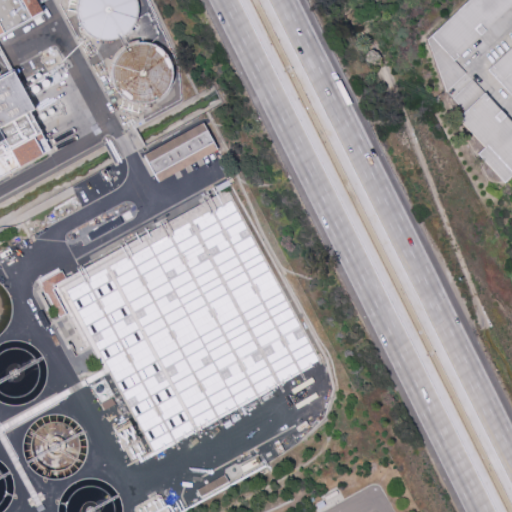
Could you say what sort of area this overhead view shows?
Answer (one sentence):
It's an industrial area.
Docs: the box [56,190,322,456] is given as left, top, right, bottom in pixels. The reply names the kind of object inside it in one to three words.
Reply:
building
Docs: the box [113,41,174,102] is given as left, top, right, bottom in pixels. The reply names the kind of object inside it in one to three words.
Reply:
storage tank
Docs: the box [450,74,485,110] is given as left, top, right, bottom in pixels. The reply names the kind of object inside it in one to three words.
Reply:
building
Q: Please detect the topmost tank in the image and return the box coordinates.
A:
[78,0,140,40]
